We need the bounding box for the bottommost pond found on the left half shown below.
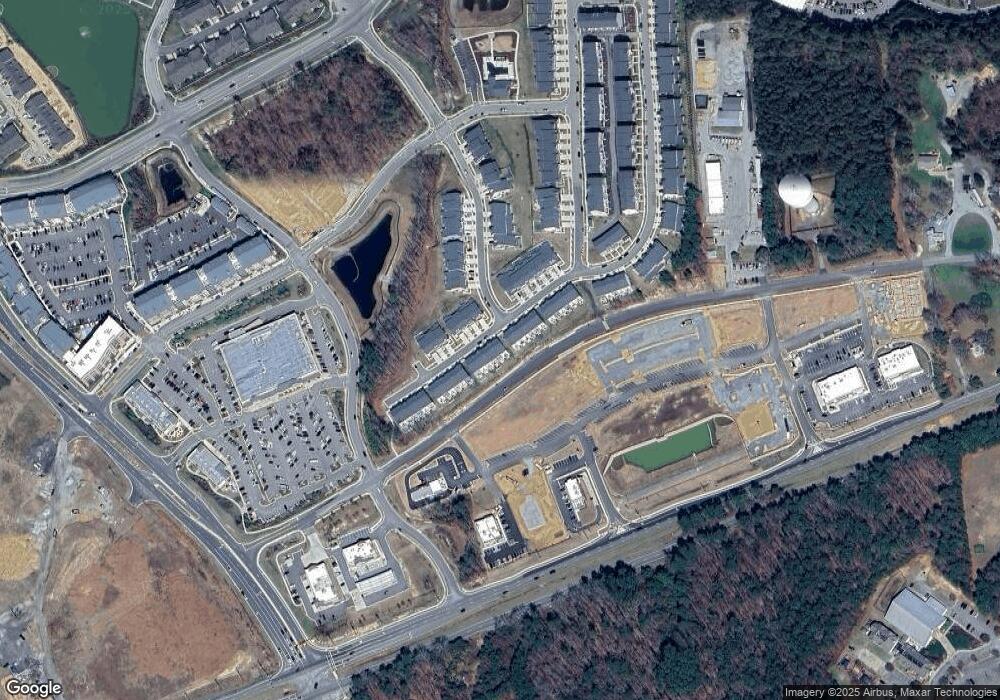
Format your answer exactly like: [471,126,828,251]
[331,213,393,319]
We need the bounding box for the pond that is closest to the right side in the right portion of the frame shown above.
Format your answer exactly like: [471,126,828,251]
[622,423,715,472]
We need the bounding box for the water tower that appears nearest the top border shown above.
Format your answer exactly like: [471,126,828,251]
[780,172,819,215]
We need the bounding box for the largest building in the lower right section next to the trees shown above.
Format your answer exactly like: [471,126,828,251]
[884,588,946,650]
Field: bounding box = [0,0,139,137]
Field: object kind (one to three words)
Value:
pond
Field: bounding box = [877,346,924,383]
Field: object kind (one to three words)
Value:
building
